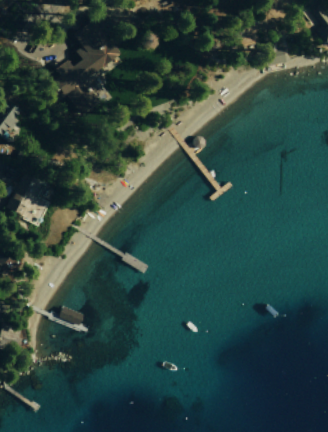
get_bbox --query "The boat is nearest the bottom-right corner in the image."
[264,302,282,318]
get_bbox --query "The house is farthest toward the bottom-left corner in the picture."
[0,326,24,350]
